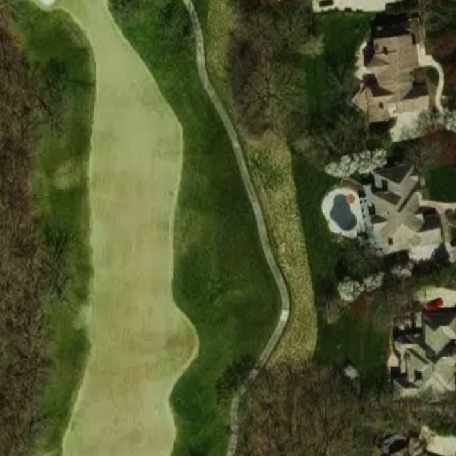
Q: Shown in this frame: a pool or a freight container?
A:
pool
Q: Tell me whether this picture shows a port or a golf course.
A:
golf course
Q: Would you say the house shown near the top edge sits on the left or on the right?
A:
right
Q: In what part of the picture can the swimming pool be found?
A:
right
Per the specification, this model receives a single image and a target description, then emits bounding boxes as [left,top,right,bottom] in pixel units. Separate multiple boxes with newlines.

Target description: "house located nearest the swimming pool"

[368,157,456,275]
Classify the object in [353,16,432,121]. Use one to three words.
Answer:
house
